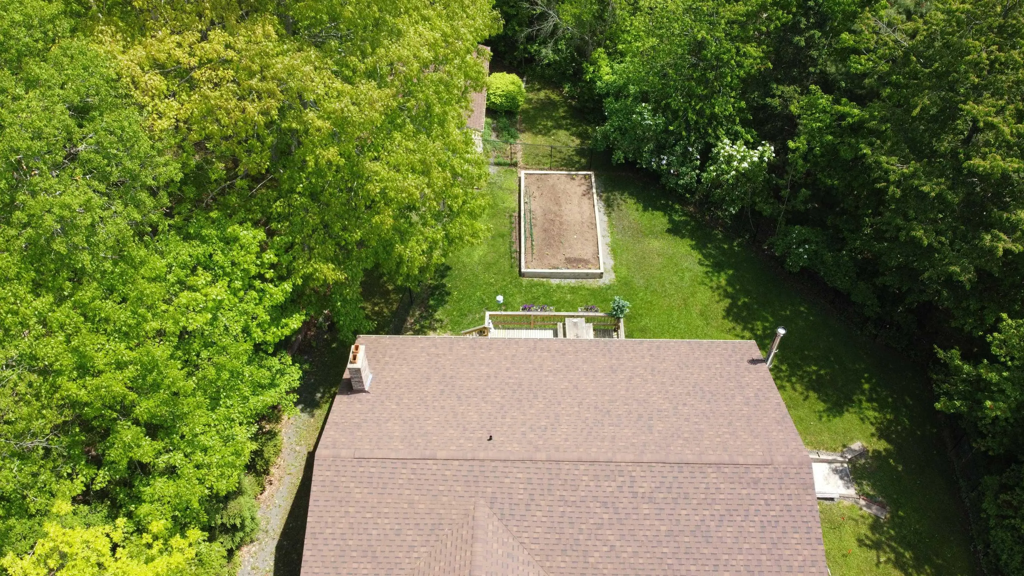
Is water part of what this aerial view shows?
No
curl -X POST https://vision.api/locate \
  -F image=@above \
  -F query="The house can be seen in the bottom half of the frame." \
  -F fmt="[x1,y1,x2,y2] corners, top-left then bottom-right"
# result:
[300,329,828,576]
